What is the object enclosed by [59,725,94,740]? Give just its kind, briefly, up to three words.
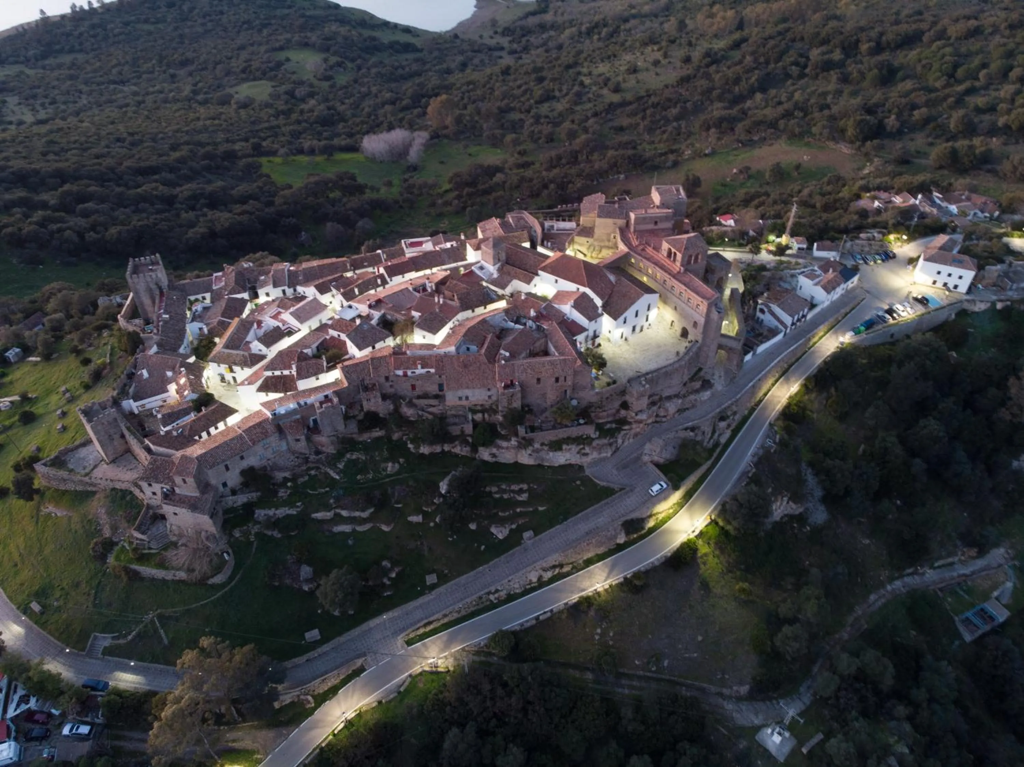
car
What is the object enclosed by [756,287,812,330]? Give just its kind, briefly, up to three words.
house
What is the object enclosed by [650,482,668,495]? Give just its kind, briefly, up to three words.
vehicle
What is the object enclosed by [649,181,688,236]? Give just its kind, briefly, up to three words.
building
